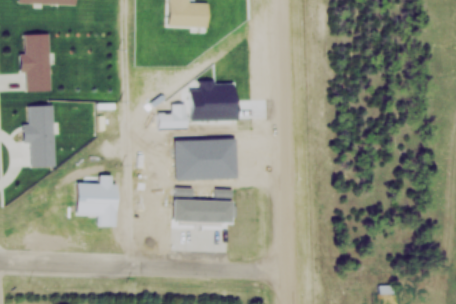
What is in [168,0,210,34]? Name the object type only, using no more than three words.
house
